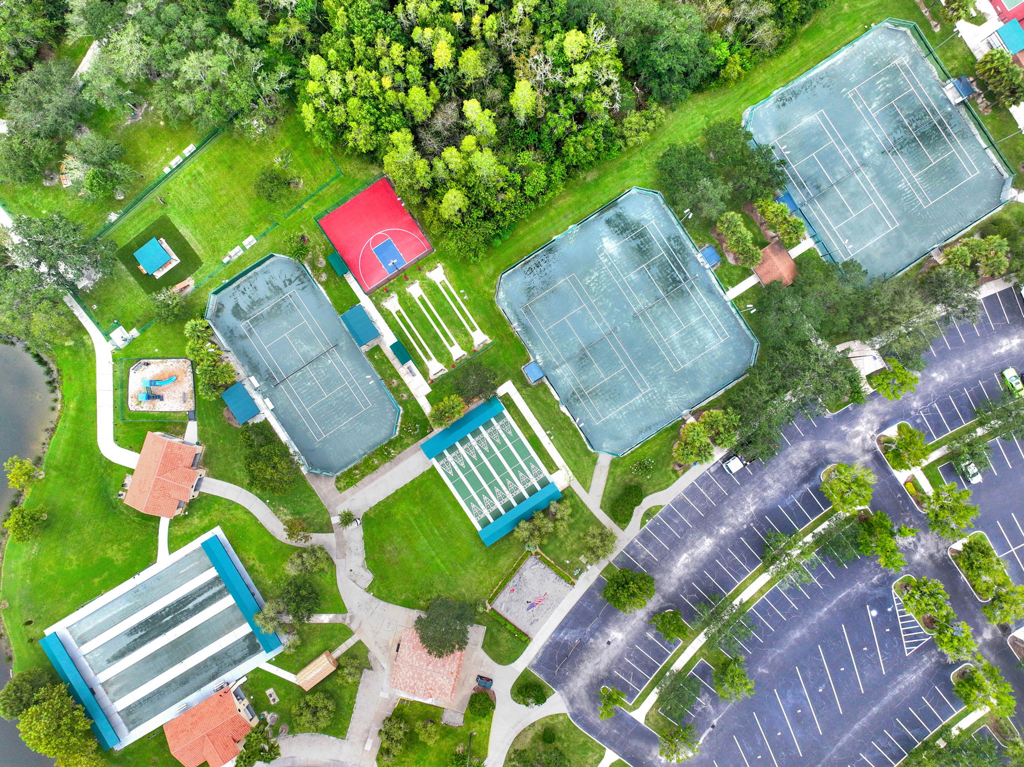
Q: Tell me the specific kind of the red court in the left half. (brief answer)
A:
basketball court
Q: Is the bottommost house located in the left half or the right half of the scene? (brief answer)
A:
left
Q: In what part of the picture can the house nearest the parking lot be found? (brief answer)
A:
bottom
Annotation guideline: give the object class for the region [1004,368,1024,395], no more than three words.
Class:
car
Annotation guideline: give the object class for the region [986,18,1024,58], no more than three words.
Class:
building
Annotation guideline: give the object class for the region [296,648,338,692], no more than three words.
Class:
shed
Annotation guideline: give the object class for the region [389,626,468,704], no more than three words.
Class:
house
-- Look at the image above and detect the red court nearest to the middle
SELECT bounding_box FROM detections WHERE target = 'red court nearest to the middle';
[319,178,431,290]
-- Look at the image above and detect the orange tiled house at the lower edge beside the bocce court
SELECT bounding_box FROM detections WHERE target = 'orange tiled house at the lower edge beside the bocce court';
[164,671,263,767]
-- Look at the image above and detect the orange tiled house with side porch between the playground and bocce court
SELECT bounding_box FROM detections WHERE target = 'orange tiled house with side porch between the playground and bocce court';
[124,430,209,520]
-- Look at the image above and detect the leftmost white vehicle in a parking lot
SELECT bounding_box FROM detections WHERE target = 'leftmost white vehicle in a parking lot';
[722,452,754,475]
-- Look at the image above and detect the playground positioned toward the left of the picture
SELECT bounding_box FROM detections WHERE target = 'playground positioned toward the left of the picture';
[127,358,194,411]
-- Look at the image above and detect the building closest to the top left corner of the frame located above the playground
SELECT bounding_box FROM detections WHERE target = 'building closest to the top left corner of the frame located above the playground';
[134,237,177,276]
